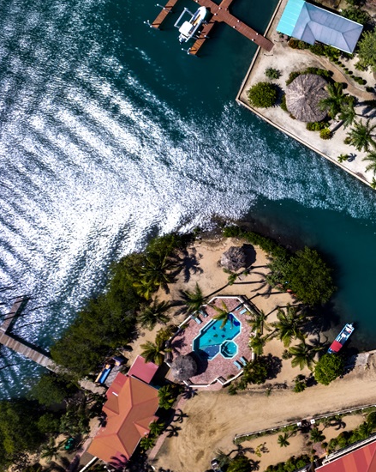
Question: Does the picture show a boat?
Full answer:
Yes, a boat appears in the view.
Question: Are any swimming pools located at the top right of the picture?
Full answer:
No, there is no swimming pool at the top right of the picture.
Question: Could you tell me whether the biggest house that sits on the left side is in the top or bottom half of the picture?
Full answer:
Seen from above, the biggest house that sits on the left side lies in the bottom half of the view.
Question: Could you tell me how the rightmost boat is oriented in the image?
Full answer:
In this picture, the rightmost boat lies diagonally.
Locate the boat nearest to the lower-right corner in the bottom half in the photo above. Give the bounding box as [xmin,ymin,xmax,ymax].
[327,322,357,354]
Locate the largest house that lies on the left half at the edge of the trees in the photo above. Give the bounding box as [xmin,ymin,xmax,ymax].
[87,372,167,470]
